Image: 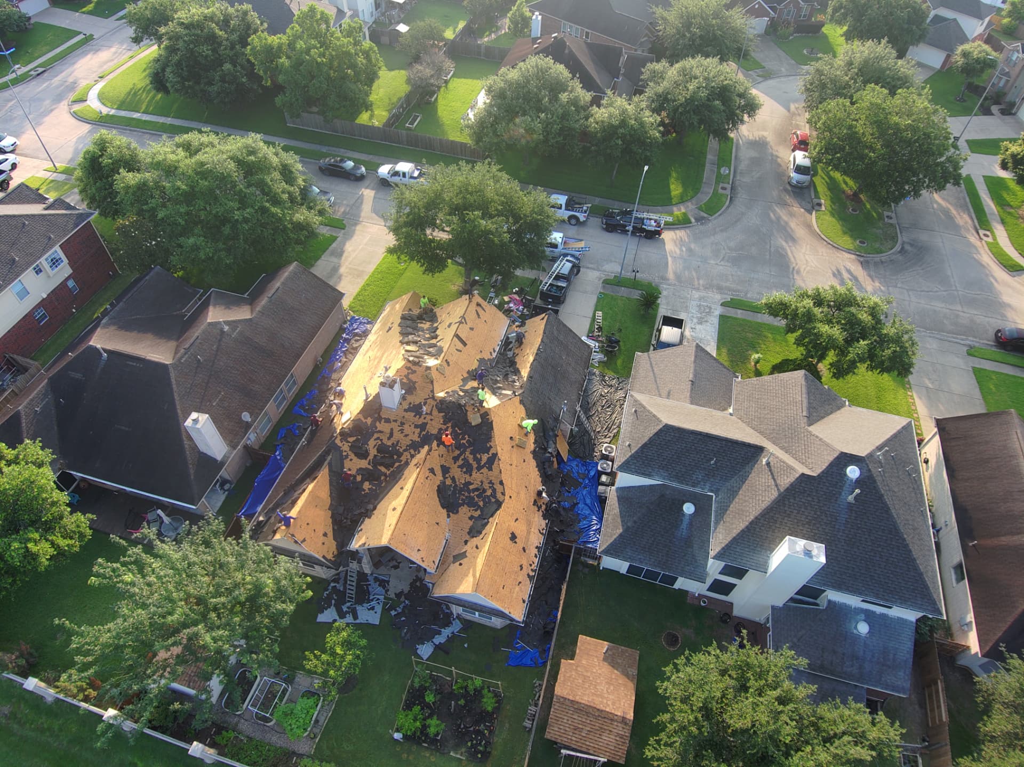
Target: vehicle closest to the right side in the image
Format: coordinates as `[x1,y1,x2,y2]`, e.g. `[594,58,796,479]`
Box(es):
[990,328,1024,355]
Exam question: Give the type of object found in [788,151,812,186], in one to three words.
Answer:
car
